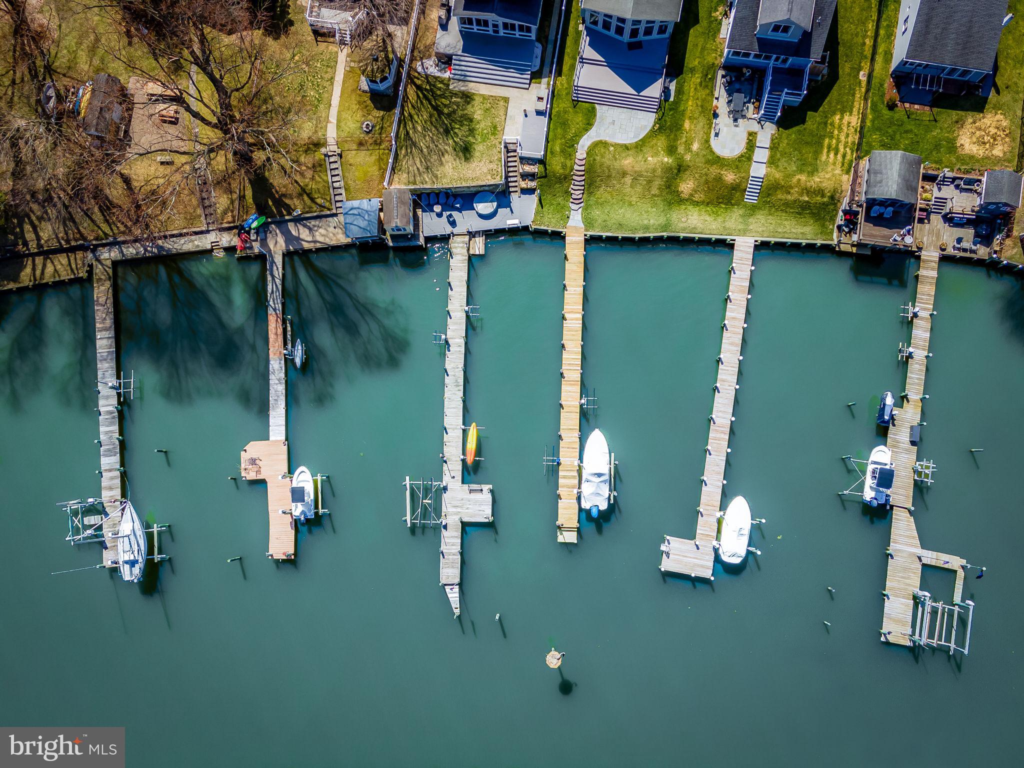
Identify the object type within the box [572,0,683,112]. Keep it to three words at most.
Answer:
house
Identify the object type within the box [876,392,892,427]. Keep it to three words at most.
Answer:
boat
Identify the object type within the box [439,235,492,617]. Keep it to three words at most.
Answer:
pier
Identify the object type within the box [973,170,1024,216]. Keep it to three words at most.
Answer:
shed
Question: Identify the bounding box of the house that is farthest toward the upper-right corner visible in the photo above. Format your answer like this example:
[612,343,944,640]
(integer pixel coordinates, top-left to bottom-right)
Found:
[892,0,1024,108]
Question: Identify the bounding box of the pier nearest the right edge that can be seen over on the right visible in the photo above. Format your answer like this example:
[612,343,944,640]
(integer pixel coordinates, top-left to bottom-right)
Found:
[872,252,966,645]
